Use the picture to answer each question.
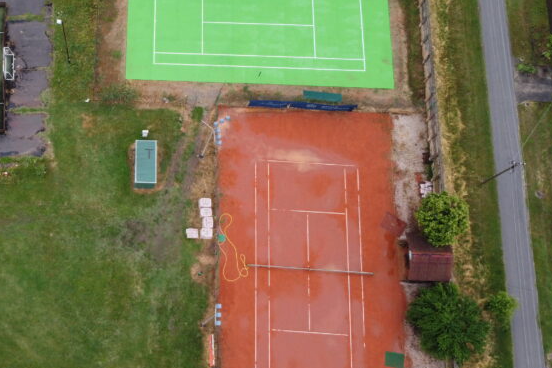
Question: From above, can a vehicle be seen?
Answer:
No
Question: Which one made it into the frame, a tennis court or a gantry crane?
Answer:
tennis court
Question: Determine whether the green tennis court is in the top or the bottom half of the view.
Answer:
top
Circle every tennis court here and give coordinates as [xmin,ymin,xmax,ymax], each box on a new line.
[218,109,405,368]
[126,0,394,88]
